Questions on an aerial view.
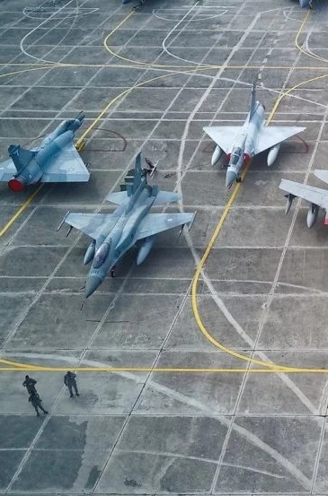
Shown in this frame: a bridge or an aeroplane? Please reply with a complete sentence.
There is an aeroplane in the scene.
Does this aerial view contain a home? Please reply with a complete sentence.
No, the photo shows no home.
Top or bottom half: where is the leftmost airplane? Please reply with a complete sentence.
The top half of the photo is where the leftmost airplane is.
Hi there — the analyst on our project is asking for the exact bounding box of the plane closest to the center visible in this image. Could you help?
[56,152,198,303]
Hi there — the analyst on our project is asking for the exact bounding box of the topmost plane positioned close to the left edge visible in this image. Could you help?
[0,114,90,201]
